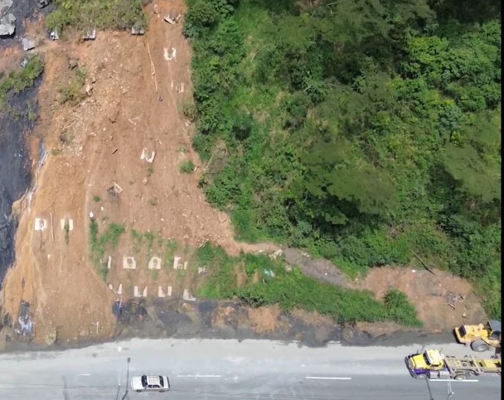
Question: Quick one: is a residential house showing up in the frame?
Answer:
No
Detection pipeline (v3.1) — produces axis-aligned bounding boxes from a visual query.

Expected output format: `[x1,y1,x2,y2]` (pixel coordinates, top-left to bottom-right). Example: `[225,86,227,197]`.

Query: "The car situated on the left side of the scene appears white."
[129,372,170,391]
